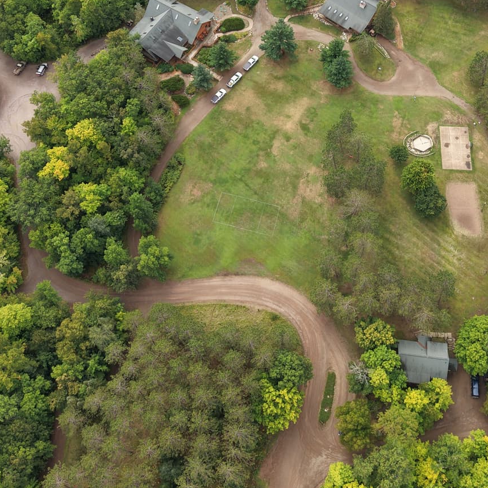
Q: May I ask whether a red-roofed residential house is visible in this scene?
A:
No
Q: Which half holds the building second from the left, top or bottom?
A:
top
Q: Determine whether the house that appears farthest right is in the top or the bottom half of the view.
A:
bottom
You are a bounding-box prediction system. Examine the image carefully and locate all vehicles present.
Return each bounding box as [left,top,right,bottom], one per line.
[243,55,259,71]
[210,87,228,104]
[35,63,49,77]
[12,61,28,77]
[470,373,481,400]
[226,71,243,88]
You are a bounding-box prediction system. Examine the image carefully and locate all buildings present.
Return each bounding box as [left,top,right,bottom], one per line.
[128,0,222,67]
[319,0,384,37]
[396,334,457,387]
